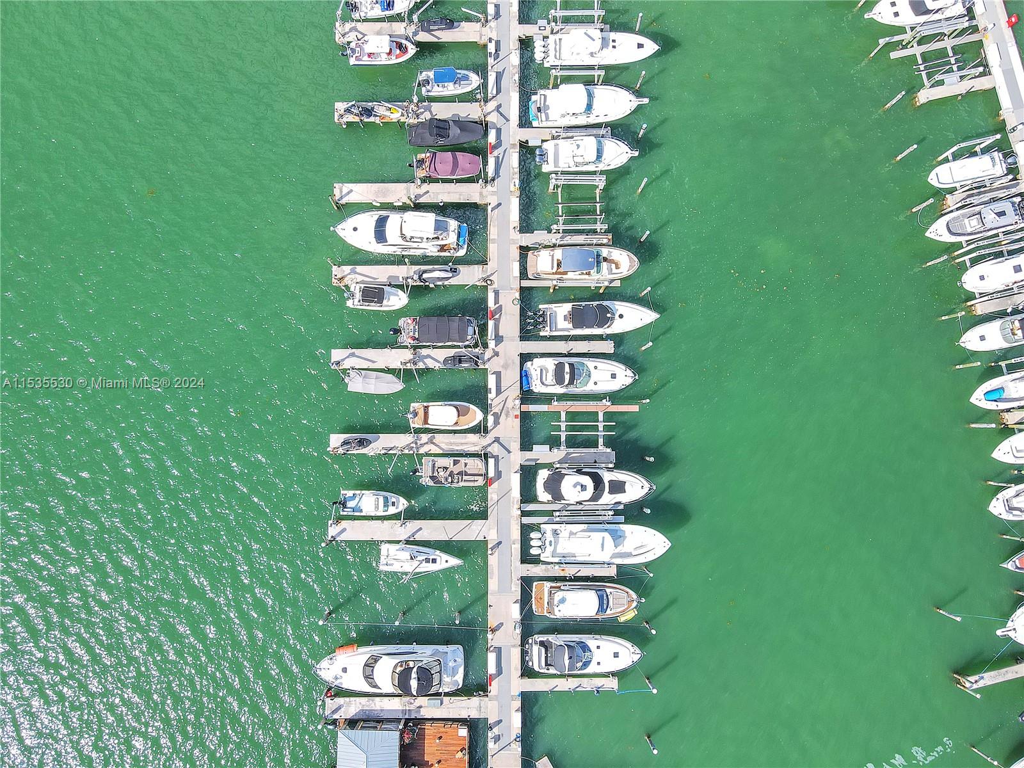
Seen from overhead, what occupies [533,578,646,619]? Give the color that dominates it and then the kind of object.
white boat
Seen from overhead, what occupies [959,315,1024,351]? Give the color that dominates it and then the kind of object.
white boat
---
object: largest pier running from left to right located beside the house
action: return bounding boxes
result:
[326,692,488,719]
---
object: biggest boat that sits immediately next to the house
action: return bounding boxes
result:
[308,639,464,697]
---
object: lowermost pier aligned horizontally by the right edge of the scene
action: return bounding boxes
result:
[961,661,1024,690]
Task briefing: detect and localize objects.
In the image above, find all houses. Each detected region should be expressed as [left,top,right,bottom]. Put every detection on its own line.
[337,719,405,768]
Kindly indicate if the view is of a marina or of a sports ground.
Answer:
marina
